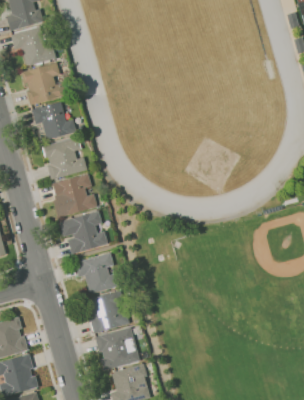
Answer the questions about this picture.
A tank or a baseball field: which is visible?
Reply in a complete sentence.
Of the two, only a baseball field appears.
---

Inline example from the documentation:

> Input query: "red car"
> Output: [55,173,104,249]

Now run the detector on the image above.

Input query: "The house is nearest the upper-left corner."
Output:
[6,0,44,32]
